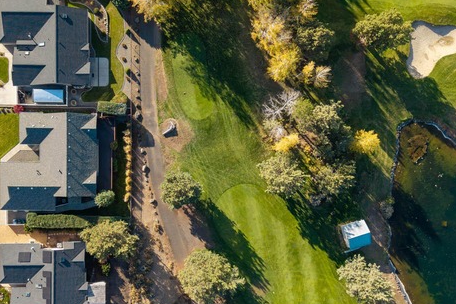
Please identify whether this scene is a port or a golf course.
golf course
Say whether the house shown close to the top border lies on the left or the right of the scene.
left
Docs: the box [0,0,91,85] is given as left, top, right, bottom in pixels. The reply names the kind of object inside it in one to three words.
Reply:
house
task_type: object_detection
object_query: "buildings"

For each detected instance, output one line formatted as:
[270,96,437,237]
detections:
[336,220,371,250]
[0,111,98,210]
[0,0,91,85]
[0,243,106,304]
